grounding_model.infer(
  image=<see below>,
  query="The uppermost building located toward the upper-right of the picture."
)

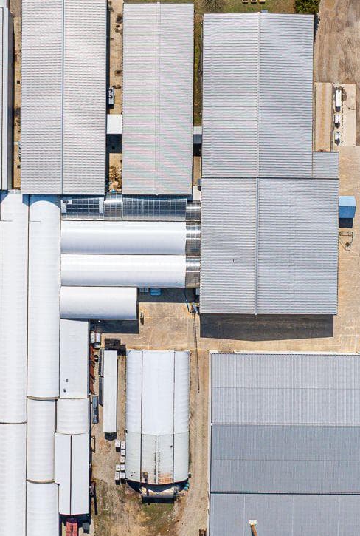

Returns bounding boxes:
[202,12,338,177]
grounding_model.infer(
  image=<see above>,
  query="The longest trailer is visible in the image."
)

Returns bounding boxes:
[104,349,117,433]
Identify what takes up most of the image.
buildings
